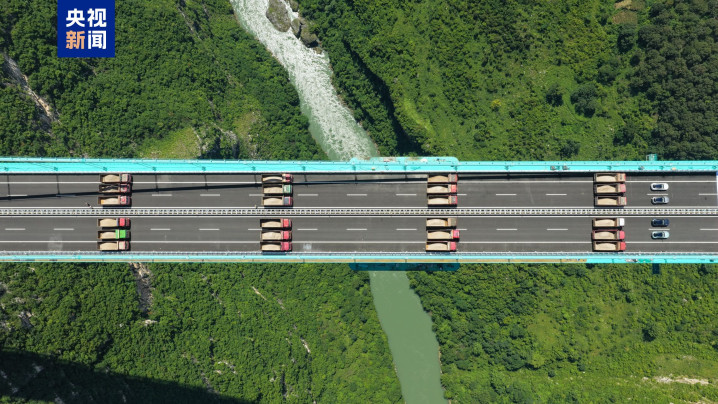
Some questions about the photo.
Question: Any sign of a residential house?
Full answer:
No, I find no residential house anywhere in the image.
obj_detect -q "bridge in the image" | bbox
[0,154,718,271]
